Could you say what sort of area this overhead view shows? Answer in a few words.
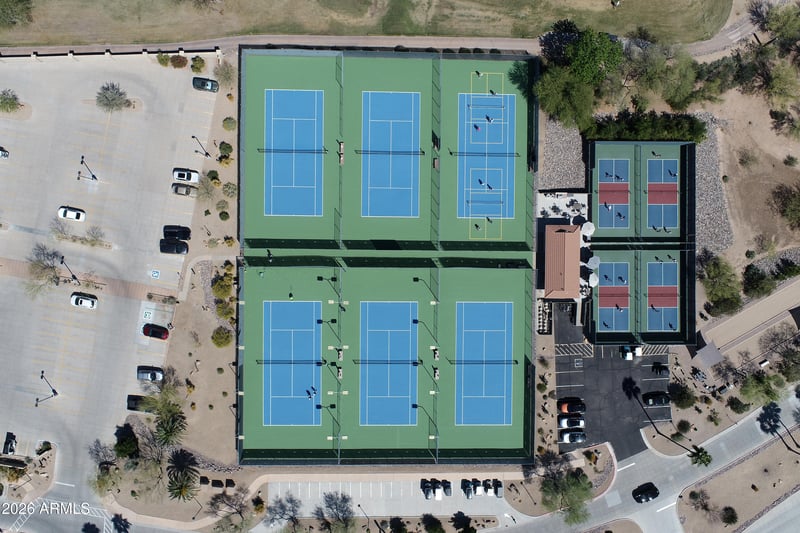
sports ground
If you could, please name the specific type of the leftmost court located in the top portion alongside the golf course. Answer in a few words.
tennis court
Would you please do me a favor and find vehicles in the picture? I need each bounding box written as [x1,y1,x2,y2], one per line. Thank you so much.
[434,485,442,501]
[561,431,586,444]
[424,484,431,499]
[127,397,145,410]
[485,483,494,499]
[633,483,658,501]
[559,401,584,413]
[59,207,86,220]
[171,183,198,195]
[444,482,452,498]
[4,431,20,456]
[622,349,632,363]
[142,324,170,338]
[559,417,584,429]
[643,392,668,405]
[191,77,219,92]
[135,368,165,381]
[630,345,641,358]
[465,484,472,499]
[70,293,98,306]
[651,366,666,374]
[159,241,189,253]
[474,481,483,497]
[162,227,190,239]
[495,483,503,499]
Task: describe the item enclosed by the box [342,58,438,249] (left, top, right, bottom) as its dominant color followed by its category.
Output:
green tennis court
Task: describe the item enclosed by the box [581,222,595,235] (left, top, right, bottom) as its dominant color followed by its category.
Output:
white umbrella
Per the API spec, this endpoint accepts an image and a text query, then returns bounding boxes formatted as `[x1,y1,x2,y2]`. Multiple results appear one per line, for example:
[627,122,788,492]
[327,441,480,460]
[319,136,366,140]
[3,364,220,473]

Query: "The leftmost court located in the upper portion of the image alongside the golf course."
[245,55,343,249]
